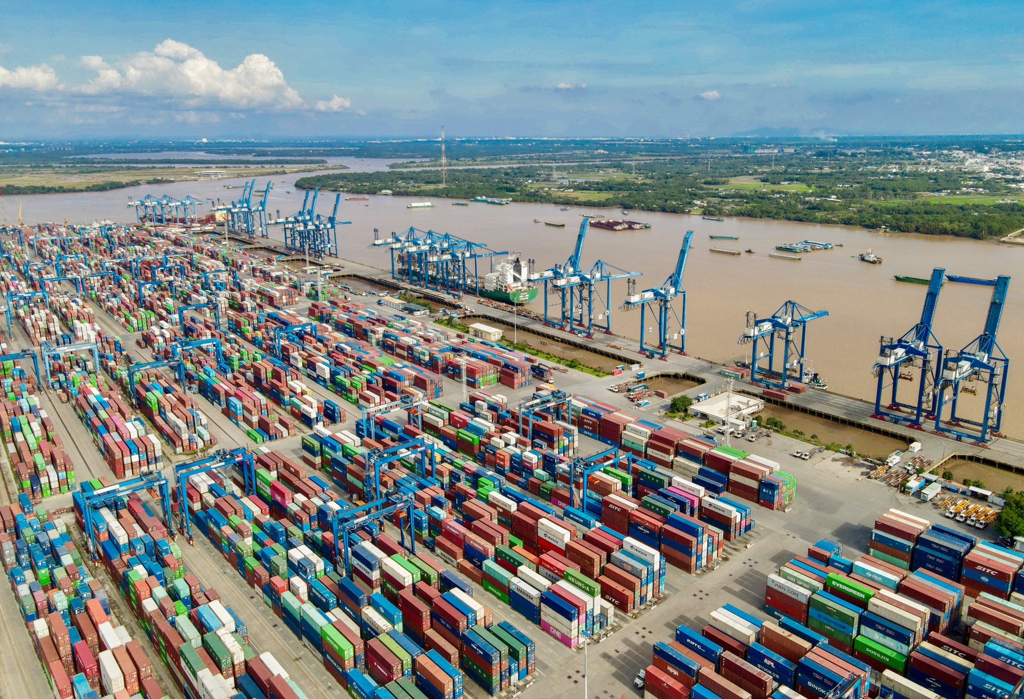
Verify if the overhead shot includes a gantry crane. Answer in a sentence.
Yes, a gantry crane appears in the view.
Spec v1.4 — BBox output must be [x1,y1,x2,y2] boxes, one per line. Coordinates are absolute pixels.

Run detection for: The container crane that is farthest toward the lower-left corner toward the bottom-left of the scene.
[80,466,179,567]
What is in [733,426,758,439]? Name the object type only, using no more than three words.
vehicle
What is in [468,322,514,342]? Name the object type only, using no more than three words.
building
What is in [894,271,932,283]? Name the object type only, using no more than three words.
ship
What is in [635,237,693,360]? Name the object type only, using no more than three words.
container crane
